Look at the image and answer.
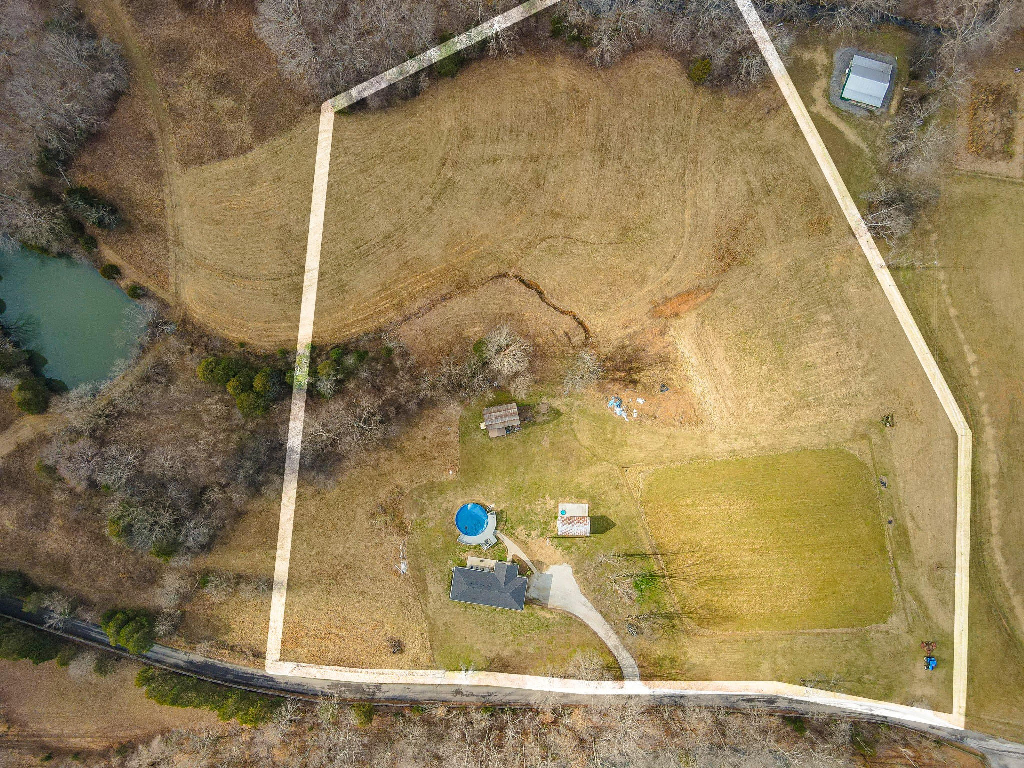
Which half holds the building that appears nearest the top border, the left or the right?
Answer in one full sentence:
The building that appears nearest the top border appears in the right half of the scene.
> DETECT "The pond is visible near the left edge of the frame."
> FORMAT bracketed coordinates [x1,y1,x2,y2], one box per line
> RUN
[0,240,144,389]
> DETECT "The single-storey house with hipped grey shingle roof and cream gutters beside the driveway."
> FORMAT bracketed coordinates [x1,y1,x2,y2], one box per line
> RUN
[450,560,529,612]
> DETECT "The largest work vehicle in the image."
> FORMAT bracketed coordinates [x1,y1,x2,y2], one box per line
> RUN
[925,656,938,672]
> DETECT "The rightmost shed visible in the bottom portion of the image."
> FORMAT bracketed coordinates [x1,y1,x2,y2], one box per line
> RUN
[558,516,591,536]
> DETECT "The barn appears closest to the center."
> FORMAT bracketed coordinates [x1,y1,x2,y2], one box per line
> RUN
[483,403,522,438]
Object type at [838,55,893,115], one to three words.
building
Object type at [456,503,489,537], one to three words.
swimming pool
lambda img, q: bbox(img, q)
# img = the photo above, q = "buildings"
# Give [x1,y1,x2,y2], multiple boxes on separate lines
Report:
[838,55,893,115]
[450,560,529,612]
[558,516,591,536]
[483,403,522,438]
